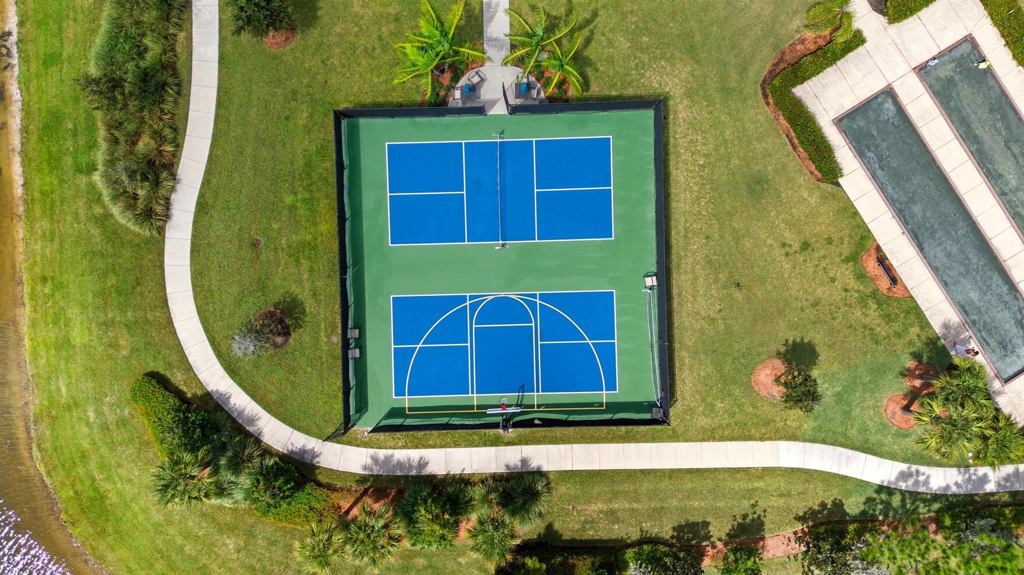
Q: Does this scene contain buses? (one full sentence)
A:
No, I can't see a single bus in this photo.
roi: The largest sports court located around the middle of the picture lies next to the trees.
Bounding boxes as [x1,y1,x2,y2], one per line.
[342,109,662,430]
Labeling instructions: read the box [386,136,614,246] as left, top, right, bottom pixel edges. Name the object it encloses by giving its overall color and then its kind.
blue sports court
